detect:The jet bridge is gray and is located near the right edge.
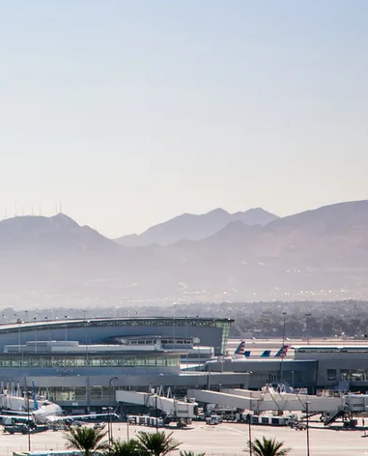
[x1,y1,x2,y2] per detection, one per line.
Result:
[247,386,368,427]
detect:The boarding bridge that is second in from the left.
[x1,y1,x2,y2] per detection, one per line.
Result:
[109,379,196,422]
